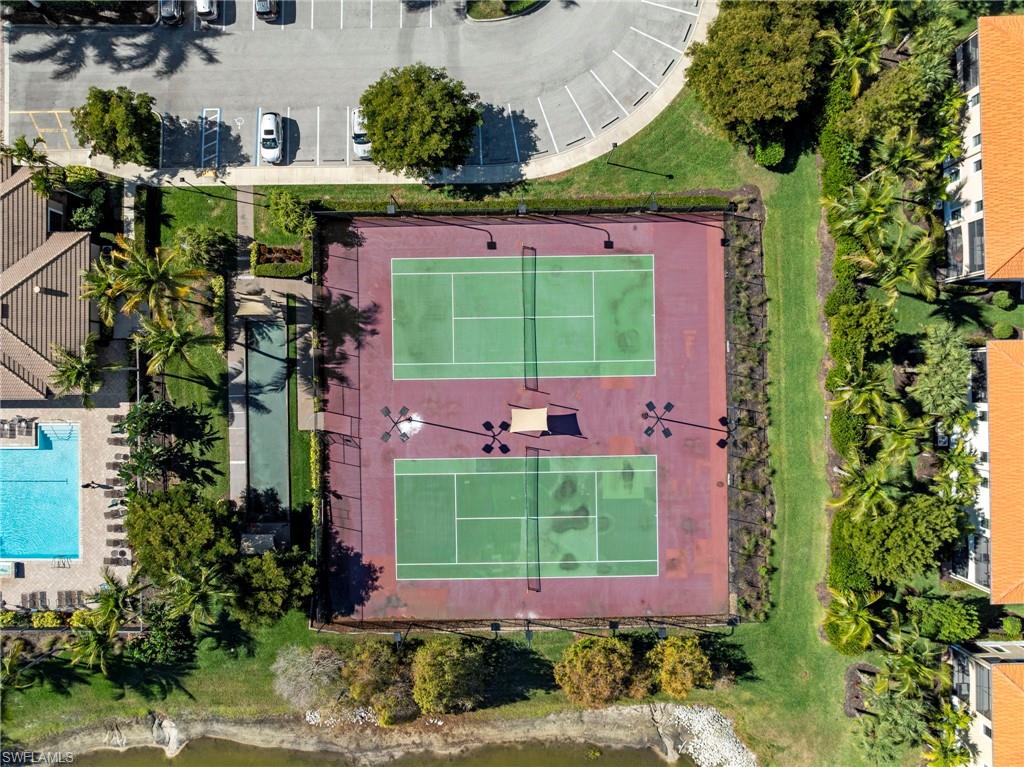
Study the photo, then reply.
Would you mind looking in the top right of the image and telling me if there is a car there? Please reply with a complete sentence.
No, I see no car in the top right of the image.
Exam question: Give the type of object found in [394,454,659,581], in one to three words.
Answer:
tennis court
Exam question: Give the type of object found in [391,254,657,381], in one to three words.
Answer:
tennis court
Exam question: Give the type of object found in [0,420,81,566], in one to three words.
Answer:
swimming pool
